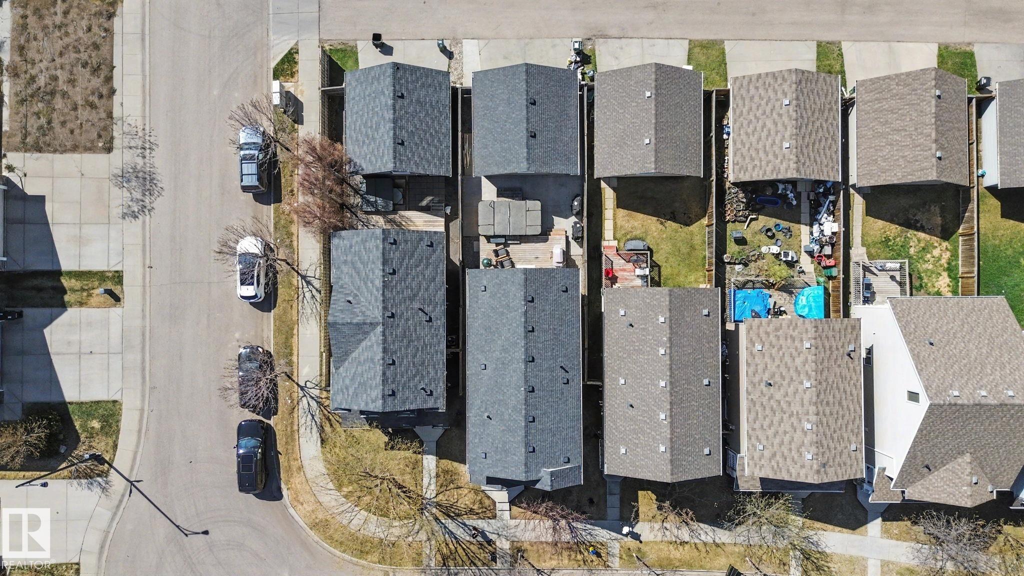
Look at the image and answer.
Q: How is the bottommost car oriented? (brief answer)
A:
up and down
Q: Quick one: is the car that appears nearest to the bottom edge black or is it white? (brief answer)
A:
black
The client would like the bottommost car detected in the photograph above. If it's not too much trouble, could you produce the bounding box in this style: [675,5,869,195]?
[232,419,270,493]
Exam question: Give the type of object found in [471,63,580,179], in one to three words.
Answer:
building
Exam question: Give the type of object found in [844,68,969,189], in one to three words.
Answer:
building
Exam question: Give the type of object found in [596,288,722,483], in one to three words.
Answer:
house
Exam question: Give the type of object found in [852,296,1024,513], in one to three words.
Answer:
house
